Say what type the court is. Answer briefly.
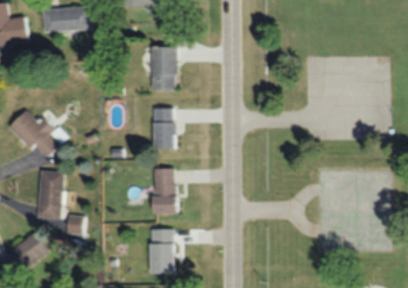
tennis court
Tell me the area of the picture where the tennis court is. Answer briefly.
bottom right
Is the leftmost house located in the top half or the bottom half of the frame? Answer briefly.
top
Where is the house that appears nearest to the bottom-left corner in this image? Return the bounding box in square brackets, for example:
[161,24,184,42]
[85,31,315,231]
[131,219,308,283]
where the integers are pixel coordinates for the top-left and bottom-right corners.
[16,237,54,270]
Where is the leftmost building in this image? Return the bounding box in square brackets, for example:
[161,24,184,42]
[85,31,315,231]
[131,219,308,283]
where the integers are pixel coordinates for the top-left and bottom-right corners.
[0,2,28,46]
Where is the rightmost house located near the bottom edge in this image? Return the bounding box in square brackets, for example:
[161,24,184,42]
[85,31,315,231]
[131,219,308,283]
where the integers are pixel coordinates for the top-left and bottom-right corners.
[149,229,176,274]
